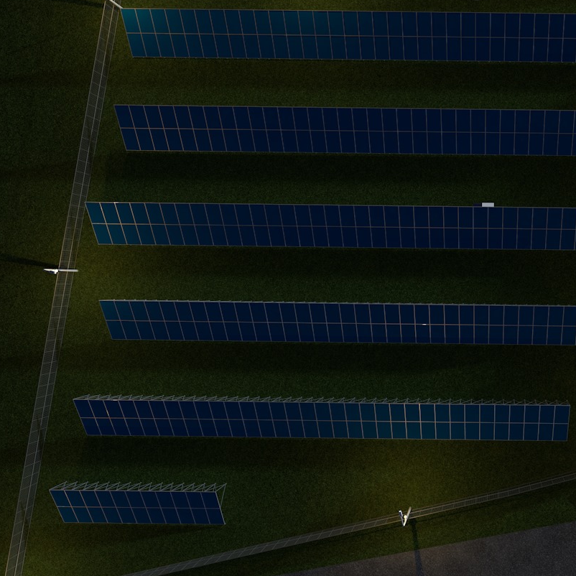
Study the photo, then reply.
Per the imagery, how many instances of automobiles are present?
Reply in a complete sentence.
The count of automobiles is 0.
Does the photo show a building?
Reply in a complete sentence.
No, there appears to be no building in this shot.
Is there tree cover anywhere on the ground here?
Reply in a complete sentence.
No, there's no tree cover in this view.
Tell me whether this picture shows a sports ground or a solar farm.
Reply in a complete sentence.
What you see here is a solar farm.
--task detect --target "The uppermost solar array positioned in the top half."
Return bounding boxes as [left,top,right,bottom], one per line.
[122,9,576,62]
